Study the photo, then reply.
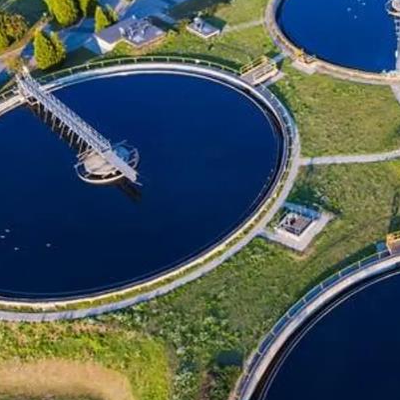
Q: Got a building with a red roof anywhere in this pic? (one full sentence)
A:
No, the scene contains no building with a red roof.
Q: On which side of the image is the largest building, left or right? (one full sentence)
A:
It is on the left.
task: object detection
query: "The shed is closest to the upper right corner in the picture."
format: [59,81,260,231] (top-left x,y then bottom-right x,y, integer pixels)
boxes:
[187,20,222,43]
